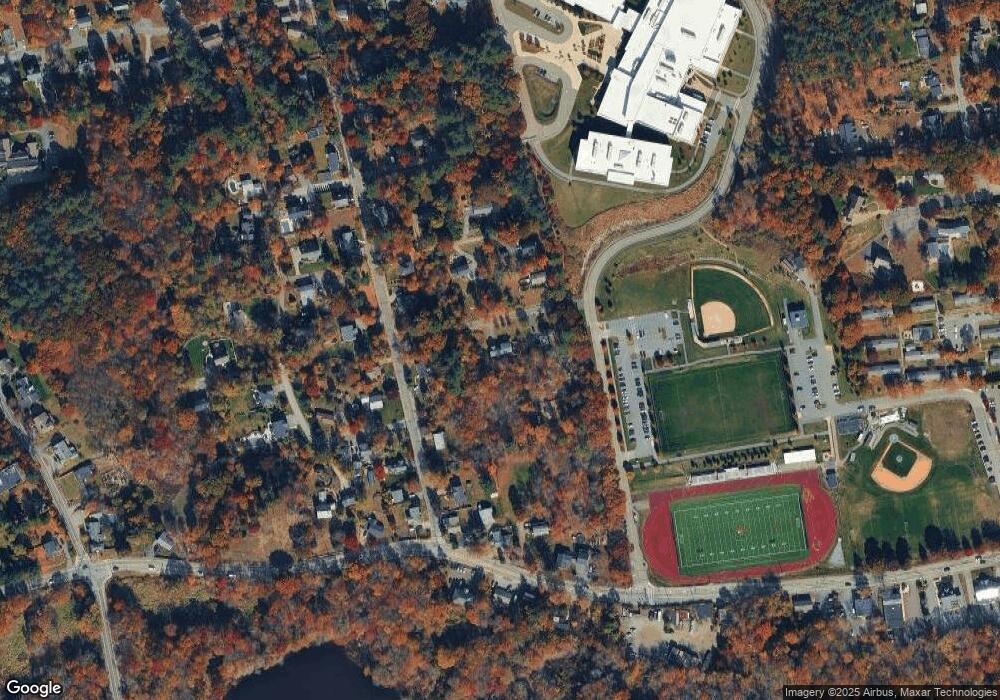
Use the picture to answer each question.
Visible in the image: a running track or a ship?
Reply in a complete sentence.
The one in the frame is a running track.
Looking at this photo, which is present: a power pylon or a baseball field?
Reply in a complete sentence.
I can see a baseball field in this picture.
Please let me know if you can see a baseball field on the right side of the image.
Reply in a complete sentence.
Yes, I can see a baseball field on the right side of the image.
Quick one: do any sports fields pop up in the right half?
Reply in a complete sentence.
Yes, you'll find a sports field in the right half.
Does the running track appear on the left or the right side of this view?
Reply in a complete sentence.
You can find the running track on the right side of the picture.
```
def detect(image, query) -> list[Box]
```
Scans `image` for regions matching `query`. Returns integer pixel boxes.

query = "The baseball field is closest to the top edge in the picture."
[691,265,774,345]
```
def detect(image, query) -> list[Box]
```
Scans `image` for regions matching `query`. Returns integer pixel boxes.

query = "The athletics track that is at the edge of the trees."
[642,468,837,583]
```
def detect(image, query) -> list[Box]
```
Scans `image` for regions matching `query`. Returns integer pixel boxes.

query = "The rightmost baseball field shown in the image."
[840,422,1000,552]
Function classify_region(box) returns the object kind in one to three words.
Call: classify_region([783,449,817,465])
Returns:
shed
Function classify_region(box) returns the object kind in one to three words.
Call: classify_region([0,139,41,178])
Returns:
house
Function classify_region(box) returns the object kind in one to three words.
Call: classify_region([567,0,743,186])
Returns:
building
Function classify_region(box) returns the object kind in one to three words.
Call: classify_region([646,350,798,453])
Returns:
sports field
